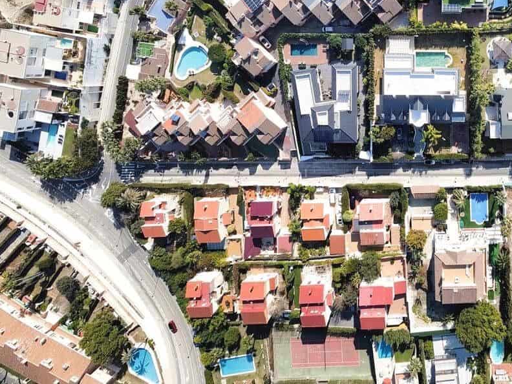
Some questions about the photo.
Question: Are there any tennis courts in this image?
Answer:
Yes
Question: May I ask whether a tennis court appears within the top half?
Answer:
No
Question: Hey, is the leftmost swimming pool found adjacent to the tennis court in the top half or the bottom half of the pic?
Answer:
bottom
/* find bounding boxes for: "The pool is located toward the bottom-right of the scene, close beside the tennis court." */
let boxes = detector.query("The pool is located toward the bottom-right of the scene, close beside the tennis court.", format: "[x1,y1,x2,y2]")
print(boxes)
[376,338,394,360]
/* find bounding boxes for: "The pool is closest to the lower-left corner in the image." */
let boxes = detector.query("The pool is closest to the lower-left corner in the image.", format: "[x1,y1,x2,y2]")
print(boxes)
[128,347,160,383]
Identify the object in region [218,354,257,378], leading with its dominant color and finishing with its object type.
blue swimming pool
